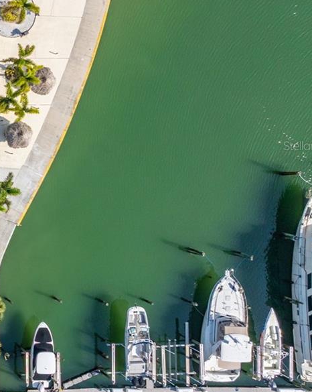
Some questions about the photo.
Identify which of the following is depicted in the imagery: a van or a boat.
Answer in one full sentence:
The one in the frame is a boat.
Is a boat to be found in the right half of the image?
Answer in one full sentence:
Yes, a boat can be seen in the right half of the image.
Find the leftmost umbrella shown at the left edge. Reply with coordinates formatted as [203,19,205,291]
[4,122,30,149]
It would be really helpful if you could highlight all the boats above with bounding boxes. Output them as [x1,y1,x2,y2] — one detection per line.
[260,311,283,389]
[283,192,312,388]
[128,308,155,387]
[195,276,245,388]
[32,324,57,392]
